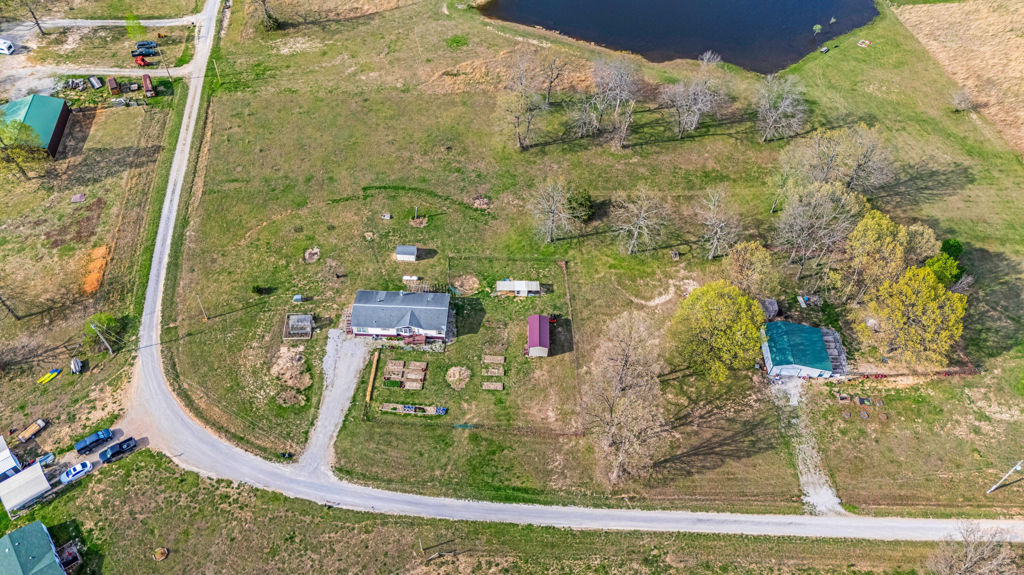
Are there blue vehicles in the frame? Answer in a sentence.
Yes, there's a blue vehicle down there.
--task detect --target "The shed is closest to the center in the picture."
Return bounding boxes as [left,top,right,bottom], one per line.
[497,281,540,296]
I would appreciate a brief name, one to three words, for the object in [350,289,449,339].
house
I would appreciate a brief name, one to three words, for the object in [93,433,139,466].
truck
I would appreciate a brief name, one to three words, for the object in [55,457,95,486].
car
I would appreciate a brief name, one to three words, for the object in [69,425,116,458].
truck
